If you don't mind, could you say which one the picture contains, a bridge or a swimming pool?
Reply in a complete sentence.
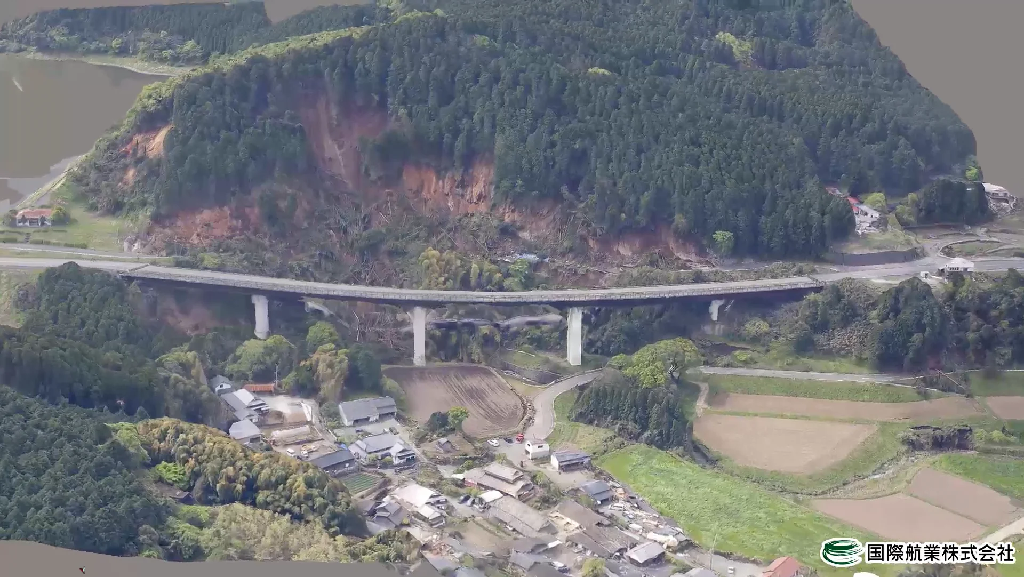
It is a bridge that can be seen here.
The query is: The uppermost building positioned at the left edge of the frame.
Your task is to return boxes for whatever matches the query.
[11,208,57,227]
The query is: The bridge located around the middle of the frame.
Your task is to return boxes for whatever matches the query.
[117,261,826,368]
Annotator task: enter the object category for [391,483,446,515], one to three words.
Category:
house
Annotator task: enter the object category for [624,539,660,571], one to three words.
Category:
house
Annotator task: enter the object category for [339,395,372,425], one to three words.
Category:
barn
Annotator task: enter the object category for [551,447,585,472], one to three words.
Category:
building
